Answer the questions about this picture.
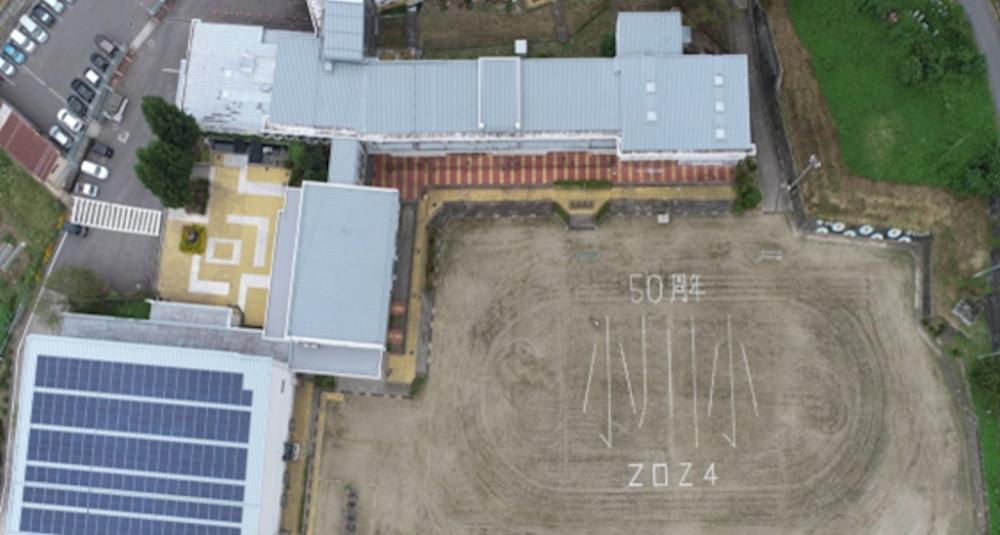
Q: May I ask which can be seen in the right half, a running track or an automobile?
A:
running track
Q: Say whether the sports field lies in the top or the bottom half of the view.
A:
bottom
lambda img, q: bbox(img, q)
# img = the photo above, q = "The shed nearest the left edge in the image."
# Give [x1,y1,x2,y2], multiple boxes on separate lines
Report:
[0,100,62,182]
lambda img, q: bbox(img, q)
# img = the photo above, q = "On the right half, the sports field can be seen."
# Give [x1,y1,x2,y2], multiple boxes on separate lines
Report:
[317,211,976,535]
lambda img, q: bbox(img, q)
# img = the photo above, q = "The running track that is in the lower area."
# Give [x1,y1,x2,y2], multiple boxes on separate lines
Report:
[466,287,903,508]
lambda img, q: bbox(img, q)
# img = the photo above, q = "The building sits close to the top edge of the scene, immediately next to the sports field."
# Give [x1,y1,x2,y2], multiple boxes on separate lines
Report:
[176,0,756,170]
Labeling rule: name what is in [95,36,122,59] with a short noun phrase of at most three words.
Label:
car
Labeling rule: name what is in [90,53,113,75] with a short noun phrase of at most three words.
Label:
car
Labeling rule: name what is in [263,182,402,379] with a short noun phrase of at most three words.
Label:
building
